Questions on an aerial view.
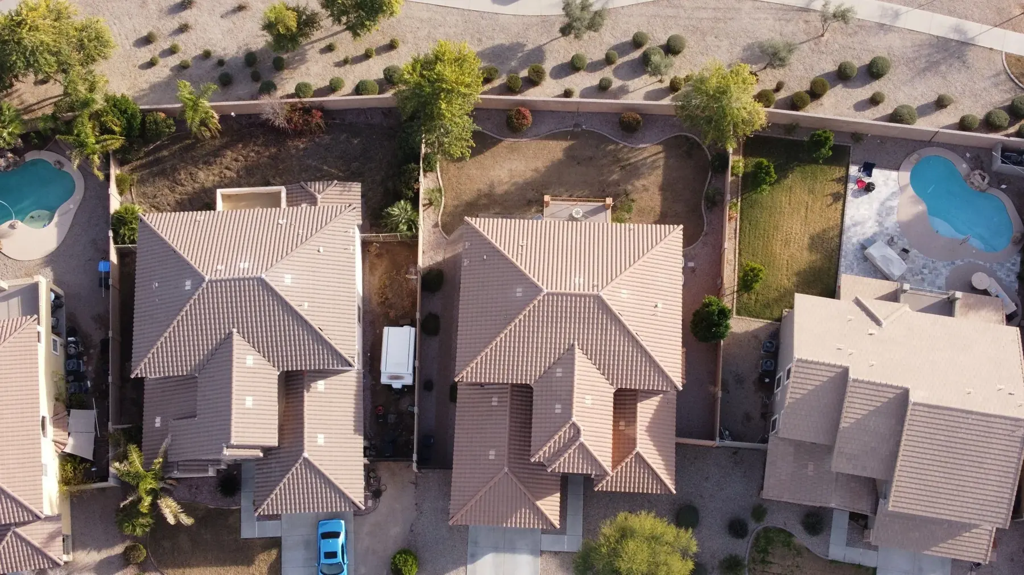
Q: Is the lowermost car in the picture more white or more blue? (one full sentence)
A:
In this view, the lowermost car is blue.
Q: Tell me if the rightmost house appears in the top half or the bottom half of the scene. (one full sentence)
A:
The rightmost house is in the bottom half of the image.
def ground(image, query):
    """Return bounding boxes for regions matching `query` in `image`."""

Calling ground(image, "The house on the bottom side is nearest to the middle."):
[448,197,687,530]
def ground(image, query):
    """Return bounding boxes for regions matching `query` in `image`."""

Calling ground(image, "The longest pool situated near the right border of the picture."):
[910,154,1014,253]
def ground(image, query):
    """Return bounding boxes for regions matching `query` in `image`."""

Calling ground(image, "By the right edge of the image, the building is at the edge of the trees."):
[759,274,1024,563]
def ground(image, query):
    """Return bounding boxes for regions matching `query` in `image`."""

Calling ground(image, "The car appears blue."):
[313,516,348,575]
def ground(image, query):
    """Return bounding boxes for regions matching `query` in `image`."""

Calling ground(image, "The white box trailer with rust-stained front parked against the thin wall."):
[381,328,414,401]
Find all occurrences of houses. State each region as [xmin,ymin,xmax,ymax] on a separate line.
[129,177,365,515]
[448,197,687,530]
[759,274,1024,563]
[0,276,85,571]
